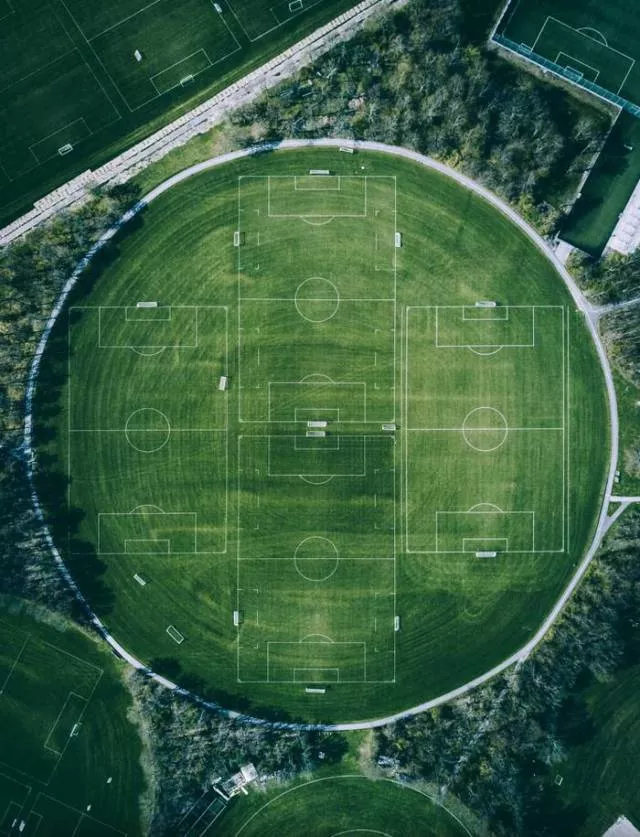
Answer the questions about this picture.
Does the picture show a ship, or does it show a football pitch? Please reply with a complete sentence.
There is a football pitch in the scene.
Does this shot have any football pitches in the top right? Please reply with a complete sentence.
Yes, a football pitch appears in the top right.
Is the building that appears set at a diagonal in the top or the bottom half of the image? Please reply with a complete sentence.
The building that appears set at a diagonal is in the bottom half of the image.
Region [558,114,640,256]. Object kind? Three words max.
sports field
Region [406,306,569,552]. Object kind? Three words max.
soccer field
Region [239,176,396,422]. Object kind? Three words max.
soccer field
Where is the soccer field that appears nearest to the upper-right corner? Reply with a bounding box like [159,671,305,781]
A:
[486,0,640,123]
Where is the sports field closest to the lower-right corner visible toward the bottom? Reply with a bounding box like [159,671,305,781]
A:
[228,770,477,837]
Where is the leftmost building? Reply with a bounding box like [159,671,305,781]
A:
[222,764,257,799]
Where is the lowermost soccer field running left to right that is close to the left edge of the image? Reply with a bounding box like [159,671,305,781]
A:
[19,793,127,837]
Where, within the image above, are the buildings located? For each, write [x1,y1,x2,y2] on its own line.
[604,817,640,837]
[222,764,257,799]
